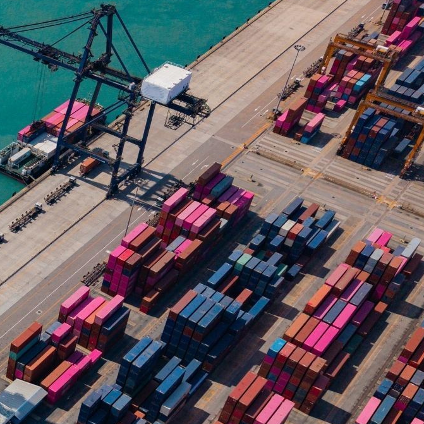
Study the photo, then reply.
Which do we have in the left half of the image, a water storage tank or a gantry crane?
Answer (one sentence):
There is a gantry crane in the left half of the image.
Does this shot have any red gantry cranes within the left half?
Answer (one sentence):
No, no red gantry crane appears within the left half.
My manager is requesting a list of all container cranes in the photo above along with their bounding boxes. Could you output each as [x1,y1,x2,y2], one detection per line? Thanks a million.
[0,0,217,200]
[307,27,403,110]
[332,88,424,181]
